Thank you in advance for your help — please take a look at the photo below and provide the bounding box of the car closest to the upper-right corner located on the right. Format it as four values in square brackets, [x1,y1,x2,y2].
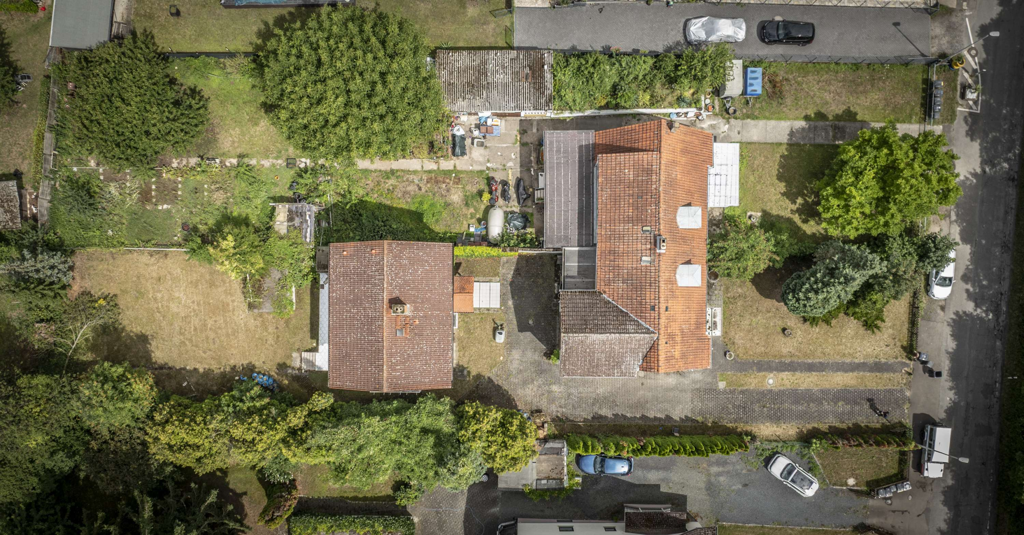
[757,17,816,47]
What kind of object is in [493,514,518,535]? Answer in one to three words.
car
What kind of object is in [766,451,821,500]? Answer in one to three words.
car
